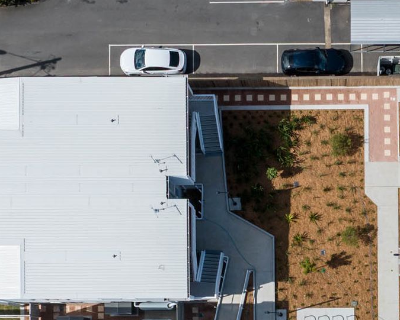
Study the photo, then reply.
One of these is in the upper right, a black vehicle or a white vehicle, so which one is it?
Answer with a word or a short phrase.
black vehicle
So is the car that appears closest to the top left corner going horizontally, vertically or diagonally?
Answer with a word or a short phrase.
horizontally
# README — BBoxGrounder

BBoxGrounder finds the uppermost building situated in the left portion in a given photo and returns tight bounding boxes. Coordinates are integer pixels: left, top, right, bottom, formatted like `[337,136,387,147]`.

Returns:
[0,76,197,304]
